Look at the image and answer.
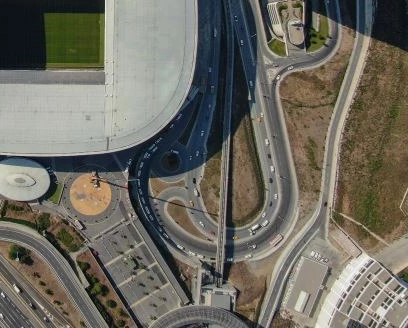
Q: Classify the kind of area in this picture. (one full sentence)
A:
It's a sports ground.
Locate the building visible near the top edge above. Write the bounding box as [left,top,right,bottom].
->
[265,0,306,55]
